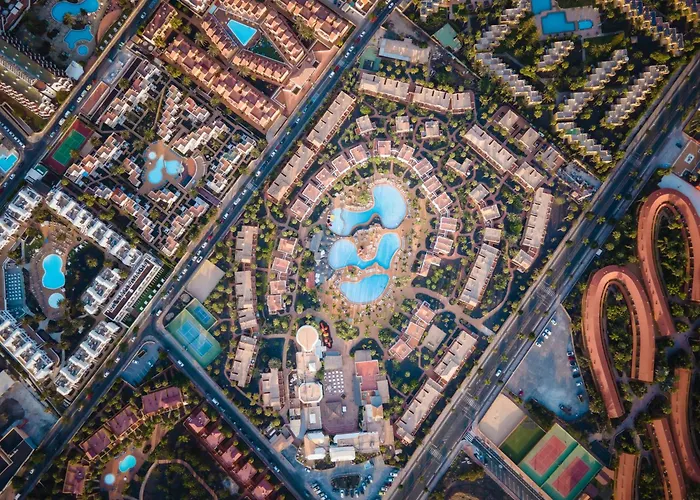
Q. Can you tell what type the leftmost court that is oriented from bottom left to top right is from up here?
tennis court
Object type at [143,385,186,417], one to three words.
house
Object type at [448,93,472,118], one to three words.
building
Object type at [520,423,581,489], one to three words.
tennis court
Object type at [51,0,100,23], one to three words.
swimming pool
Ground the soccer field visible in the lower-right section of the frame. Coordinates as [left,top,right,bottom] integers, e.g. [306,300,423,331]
[500,416,547,467]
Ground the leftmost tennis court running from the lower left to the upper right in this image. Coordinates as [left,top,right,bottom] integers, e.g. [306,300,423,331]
[40,118,94,175]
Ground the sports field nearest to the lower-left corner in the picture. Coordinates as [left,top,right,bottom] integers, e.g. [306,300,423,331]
[187,259,224,303]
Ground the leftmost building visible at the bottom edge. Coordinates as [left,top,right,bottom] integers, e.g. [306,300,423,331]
[0,425,41,495]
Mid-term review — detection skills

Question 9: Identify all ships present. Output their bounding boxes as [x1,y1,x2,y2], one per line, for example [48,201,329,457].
[319,320,332,350]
